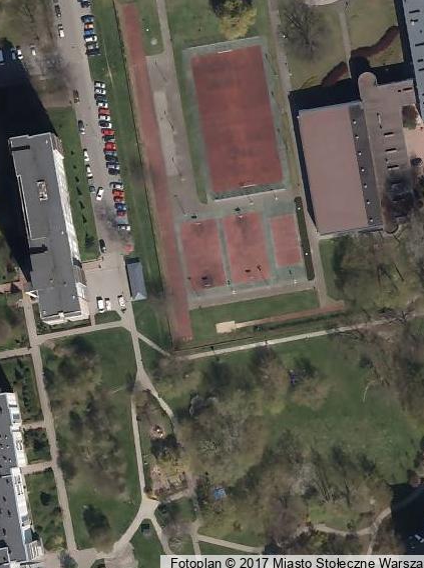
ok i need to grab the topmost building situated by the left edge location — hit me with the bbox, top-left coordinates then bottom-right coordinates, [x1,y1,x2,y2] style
[0,132,89,327]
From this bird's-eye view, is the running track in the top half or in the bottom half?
top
